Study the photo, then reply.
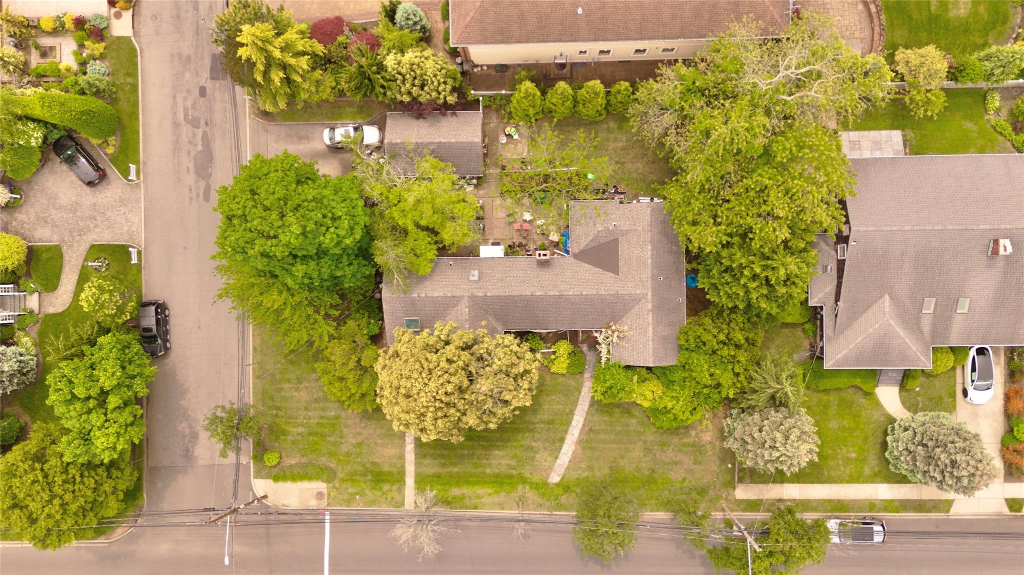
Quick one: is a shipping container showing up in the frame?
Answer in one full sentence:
No, there is no shipping container in the image.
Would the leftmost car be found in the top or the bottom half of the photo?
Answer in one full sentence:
It is in the top half that the leftmost car appears.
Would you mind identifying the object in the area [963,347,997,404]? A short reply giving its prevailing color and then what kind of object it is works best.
white car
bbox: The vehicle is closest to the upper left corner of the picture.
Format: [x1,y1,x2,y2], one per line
[53,134,106,191]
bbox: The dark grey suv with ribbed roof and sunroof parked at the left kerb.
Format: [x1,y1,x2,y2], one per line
[140,300,172,356]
